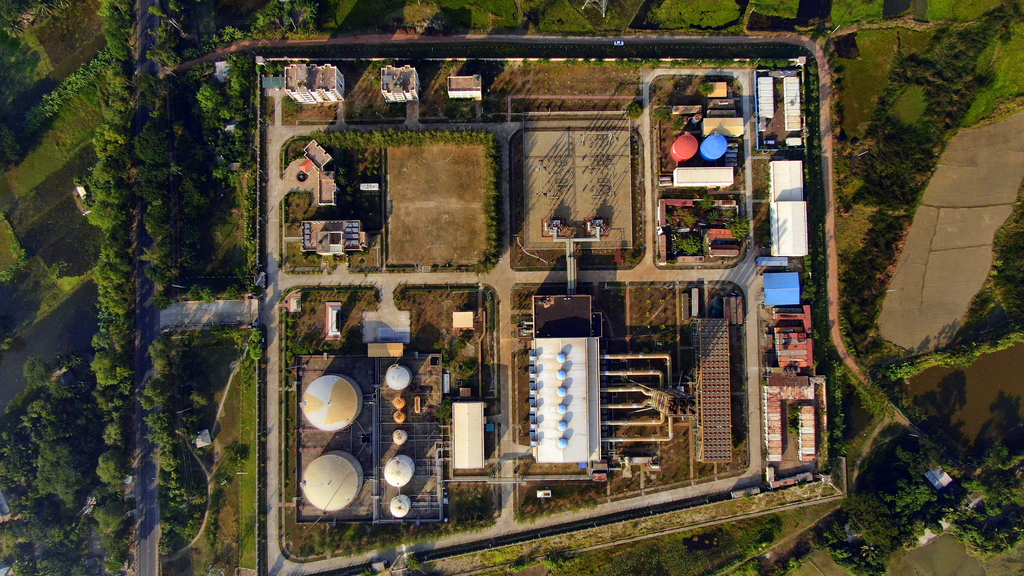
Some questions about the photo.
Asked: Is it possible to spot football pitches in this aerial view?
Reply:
Yes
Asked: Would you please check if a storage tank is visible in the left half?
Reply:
Yes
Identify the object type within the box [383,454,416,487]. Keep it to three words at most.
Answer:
storage tank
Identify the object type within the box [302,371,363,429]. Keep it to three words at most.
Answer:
storage tank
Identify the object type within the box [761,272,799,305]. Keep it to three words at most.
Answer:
shed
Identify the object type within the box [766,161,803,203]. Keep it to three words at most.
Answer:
building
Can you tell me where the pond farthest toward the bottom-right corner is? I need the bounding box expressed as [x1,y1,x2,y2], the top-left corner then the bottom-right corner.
[900,341,1024,447]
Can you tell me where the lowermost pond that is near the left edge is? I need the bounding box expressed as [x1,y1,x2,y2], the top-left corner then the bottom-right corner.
[0,277,100,412]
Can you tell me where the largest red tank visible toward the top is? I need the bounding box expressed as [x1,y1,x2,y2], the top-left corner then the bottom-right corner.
[671,130,699,168]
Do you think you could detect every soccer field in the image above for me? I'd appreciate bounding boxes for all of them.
[386,143,490,266]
